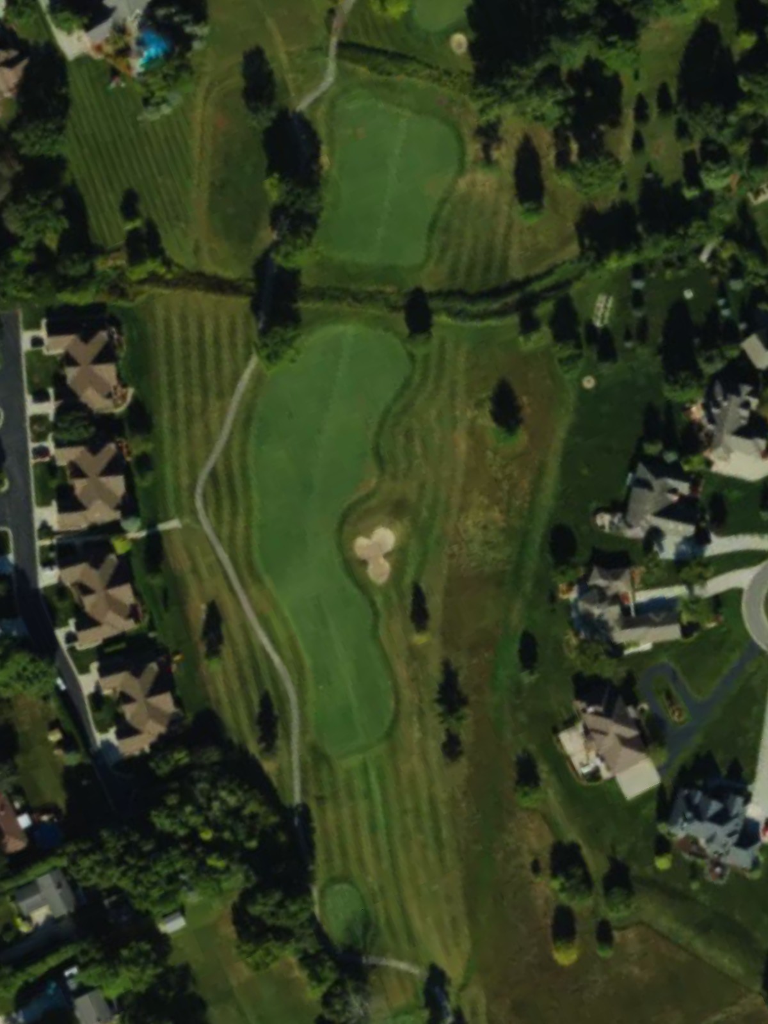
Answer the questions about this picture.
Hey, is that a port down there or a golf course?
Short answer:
golf course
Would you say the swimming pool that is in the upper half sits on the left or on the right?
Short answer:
left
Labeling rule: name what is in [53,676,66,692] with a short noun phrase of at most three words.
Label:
vehicle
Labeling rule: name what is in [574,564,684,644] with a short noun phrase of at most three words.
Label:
house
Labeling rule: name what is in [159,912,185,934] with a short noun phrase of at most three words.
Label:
shed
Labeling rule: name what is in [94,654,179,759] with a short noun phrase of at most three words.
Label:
house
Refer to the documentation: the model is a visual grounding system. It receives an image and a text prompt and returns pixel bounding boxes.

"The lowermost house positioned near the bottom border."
[72,987,113,1024]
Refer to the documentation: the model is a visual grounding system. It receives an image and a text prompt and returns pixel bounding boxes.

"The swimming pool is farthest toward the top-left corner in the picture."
[138,30,171,68]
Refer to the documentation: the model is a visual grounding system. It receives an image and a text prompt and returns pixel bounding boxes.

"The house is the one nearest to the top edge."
[82,0,159,45]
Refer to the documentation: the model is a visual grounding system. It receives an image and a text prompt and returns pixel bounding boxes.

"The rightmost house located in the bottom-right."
[668,786,764,863]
